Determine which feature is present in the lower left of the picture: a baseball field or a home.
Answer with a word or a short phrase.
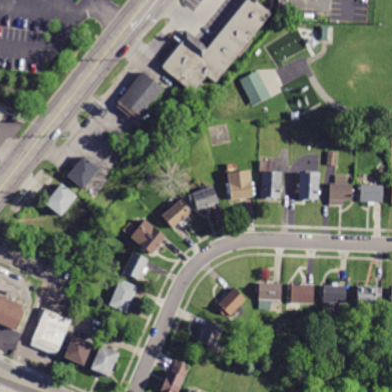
home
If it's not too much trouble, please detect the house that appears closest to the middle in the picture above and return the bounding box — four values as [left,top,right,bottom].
[192,186,218,210]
